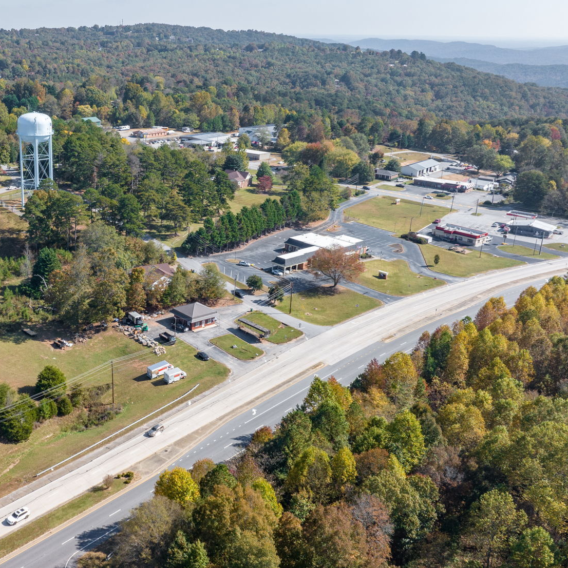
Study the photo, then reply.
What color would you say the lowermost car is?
white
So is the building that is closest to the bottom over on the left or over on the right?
left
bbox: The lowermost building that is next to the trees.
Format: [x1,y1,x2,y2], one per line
[171,302,219,331]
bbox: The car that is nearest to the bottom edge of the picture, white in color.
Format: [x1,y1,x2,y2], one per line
[4,502,32,523]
